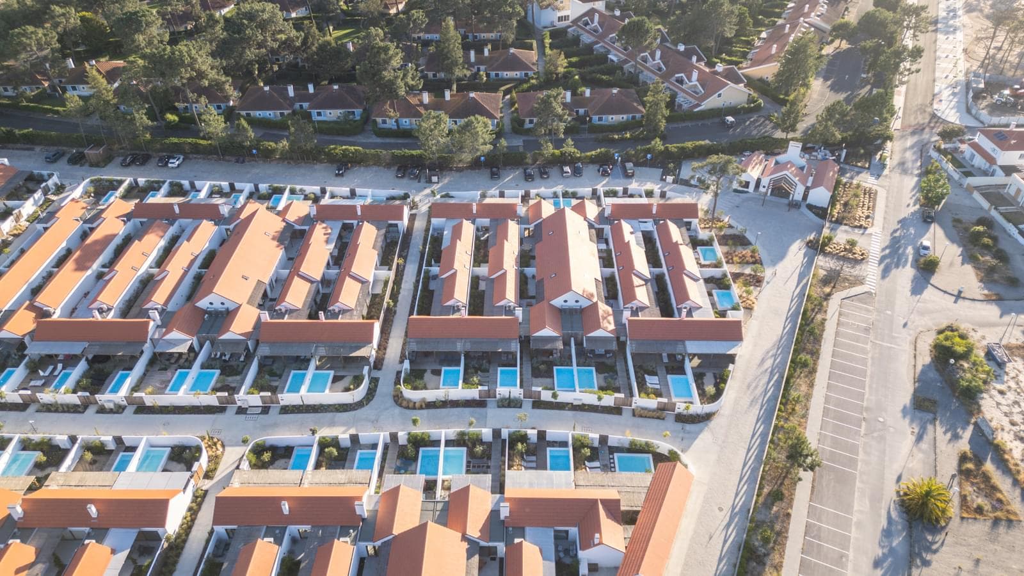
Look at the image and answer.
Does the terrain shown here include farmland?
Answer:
No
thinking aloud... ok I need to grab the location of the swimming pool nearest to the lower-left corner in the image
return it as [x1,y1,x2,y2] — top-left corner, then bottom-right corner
[1,450,38,476]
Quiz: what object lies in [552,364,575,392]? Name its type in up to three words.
swimming pool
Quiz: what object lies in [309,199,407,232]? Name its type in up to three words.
house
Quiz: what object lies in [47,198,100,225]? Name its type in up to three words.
house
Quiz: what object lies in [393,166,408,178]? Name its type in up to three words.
vehicle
